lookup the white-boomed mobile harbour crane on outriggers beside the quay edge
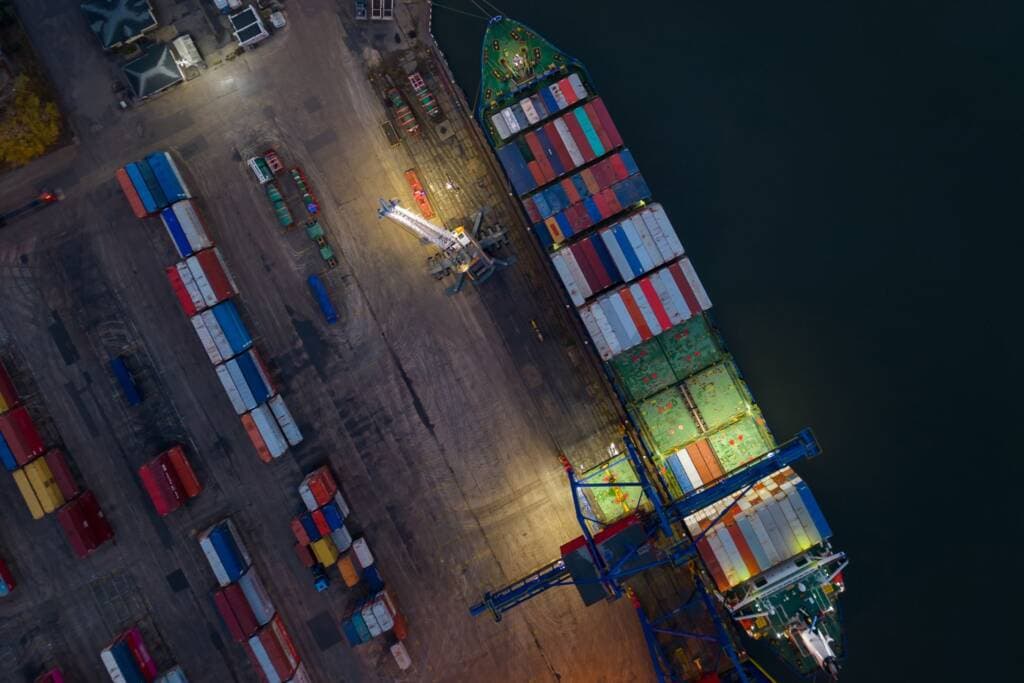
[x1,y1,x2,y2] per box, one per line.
[375,197,518,297]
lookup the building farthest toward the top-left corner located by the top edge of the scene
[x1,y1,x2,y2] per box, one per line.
[80,0,166,49]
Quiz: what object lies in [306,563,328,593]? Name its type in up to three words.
truck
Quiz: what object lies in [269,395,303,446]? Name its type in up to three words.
shipping container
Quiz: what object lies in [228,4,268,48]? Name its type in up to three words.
shed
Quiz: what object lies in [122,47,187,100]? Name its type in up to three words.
house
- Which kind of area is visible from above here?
port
